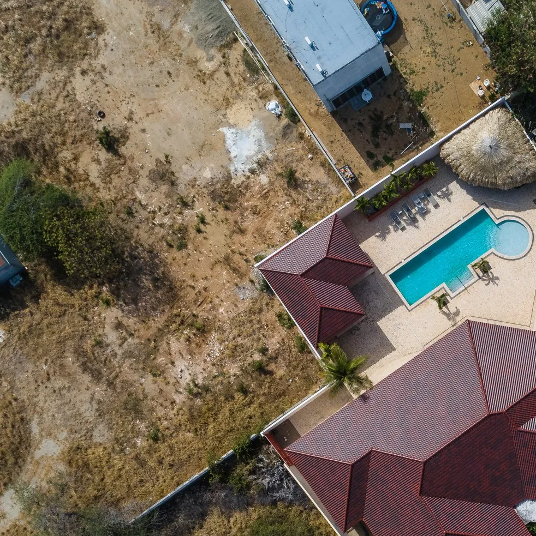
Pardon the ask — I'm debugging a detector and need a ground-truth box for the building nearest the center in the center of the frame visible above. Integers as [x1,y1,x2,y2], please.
[258,214,373,348]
